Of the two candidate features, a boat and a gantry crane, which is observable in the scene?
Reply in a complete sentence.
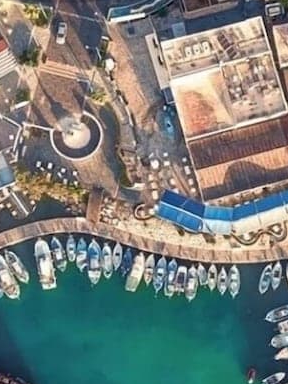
I can see a boat in this picture.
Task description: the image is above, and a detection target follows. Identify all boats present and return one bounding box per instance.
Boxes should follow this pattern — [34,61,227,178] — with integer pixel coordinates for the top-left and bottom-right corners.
[102,235,113,279]
[33,235,57,293]
[121,245,132,277]
[152,253,167,293]
[265,304,288,321]
[261,372,285,384]
[174,258,187,295]
[217,263,227,296]
[0,257,20,300]
[111,238,122,272]
[208,261,218,291]
[2,249,29,283]
[165,257,177,297]
[228,264,241,299]
[66,234,76,262]
[275,318,288,334]
[271,260,284,290]
[144,252,156,286]
[75,231,87,274]
[185,260,198,302]
[275,346,288,361]
[196,261,210,287]
[123,247,145,294]
[87,235,102,286]
[260,262,273,294]
[270,330,288,346]
[49,234,65,273]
